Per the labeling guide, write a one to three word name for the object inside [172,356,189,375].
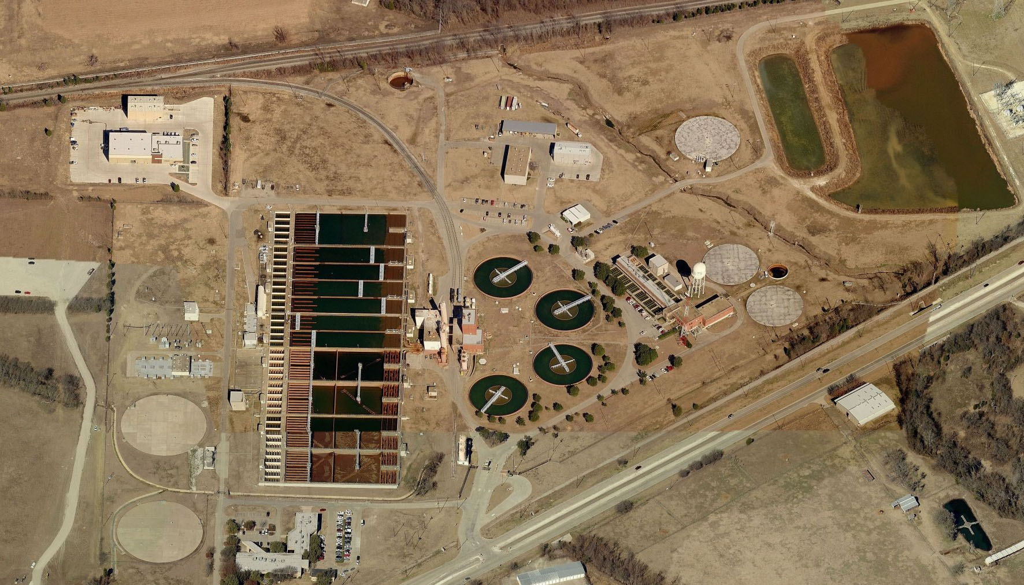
building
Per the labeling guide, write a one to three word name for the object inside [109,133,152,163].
building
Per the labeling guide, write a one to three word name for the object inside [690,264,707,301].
water tower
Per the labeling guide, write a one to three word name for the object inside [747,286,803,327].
storage tank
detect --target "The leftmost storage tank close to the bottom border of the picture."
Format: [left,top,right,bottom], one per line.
[117,501,203,564]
